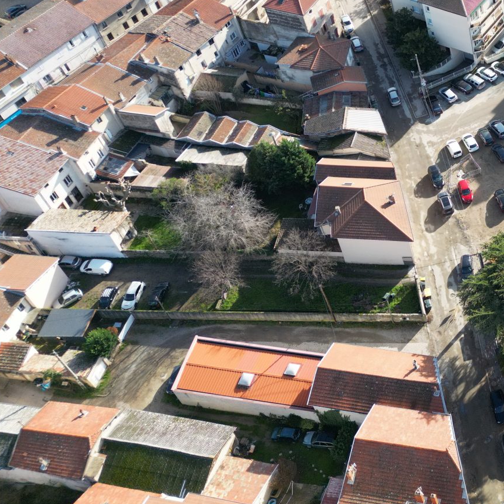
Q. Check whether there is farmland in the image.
No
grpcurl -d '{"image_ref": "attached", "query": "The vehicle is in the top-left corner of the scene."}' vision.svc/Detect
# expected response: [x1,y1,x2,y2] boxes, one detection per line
[1,0,30,19]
